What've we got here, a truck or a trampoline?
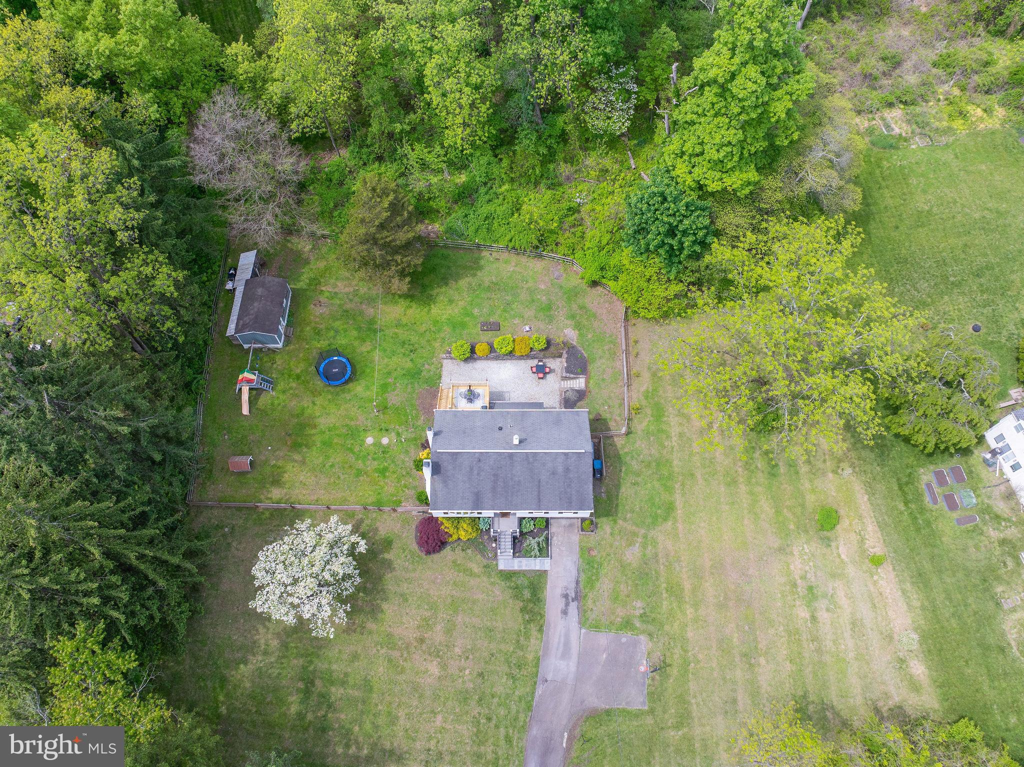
trampoline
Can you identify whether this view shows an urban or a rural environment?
rural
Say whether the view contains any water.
No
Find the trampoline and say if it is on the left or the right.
left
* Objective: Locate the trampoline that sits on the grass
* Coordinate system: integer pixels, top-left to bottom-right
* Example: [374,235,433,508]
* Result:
[314,345,356,388]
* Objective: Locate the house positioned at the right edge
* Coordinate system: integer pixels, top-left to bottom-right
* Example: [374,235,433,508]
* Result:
[985,413,1024,508]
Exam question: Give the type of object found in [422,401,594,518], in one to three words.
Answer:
house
